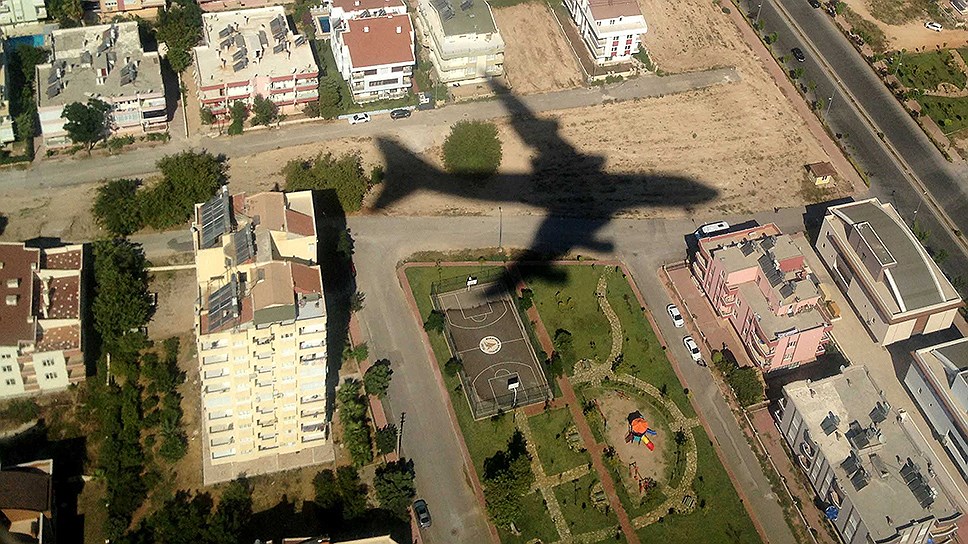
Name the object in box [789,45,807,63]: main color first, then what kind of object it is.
black car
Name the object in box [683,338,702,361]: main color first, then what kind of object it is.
white car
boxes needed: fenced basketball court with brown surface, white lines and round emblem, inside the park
[431,264,559,417]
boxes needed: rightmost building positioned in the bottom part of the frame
[899,336,968,506]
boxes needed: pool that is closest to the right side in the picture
[313,9,336,38]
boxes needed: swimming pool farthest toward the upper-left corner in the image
[4,25,61,57]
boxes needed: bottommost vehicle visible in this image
[415,500,432,526]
